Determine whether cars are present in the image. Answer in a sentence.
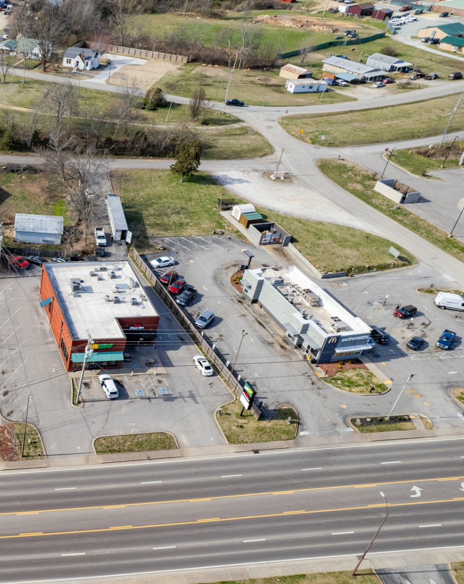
Yes, you can see a car in this photo.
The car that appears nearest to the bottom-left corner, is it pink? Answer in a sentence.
No, the color of the car that appears nearest to the bottom-left corner is white.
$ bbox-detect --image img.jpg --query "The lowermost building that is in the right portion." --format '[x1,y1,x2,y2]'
[234,266,379,365]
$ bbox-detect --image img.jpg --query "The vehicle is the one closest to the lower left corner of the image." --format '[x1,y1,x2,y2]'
[99,376,118,397]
